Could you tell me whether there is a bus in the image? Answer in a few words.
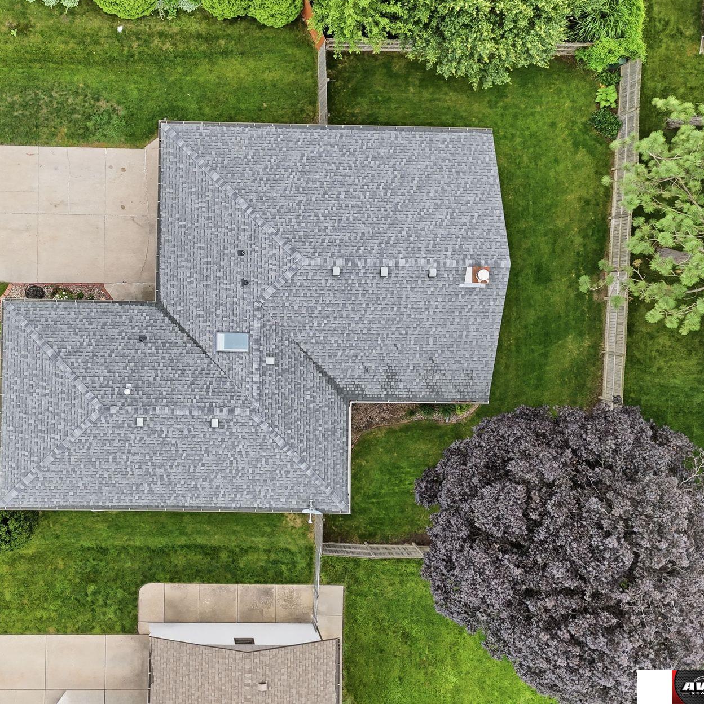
No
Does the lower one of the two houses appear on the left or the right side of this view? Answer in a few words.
left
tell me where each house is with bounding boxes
[0,117,511,516]
[147,622,340,704]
